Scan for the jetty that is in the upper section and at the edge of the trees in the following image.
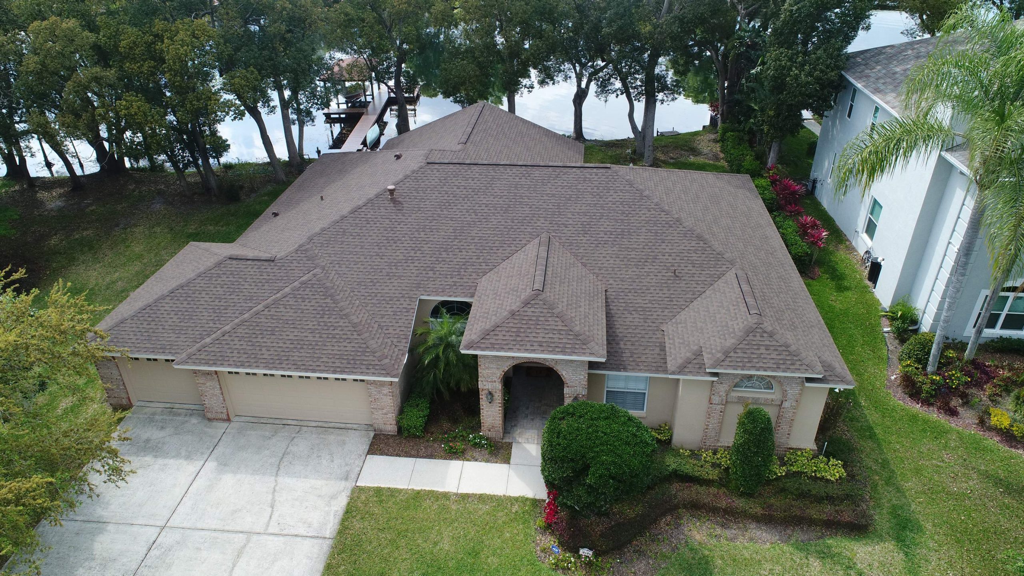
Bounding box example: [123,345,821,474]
[323,77,421,151]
